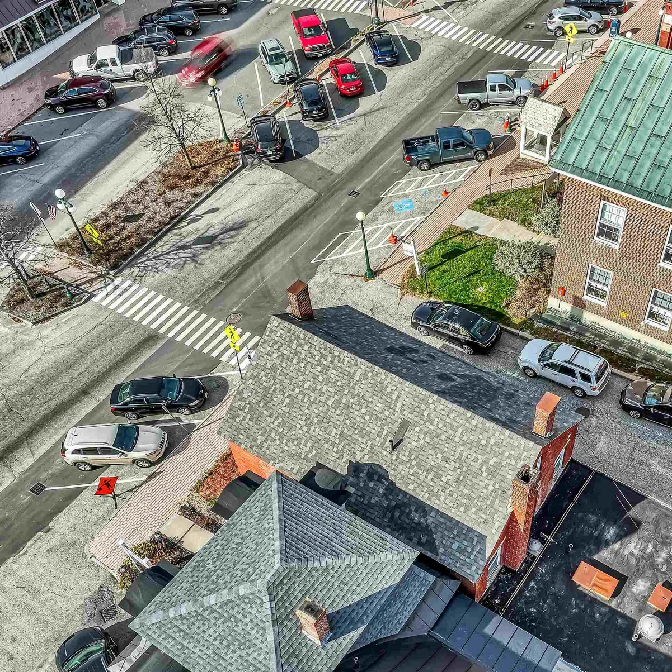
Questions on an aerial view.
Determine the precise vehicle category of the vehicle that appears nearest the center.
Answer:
automobile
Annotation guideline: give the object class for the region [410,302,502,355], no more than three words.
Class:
car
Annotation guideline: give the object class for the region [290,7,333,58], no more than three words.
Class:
truck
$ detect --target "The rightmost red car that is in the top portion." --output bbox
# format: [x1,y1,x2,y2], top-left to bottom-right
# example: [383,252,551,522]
[327,59,366,97]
